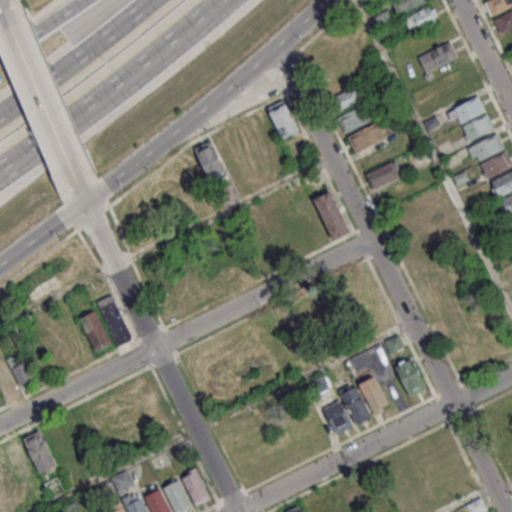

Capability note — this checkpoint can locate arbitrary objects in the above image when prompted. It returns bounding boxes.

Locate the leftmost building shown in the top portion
[197,138,228,177]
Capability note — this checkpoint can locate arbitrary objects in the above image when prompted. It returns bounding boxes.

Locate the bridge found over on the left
[0,0,99,200]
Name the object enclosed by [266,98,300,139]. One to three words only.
house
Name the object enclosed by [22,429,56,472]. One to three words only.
house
